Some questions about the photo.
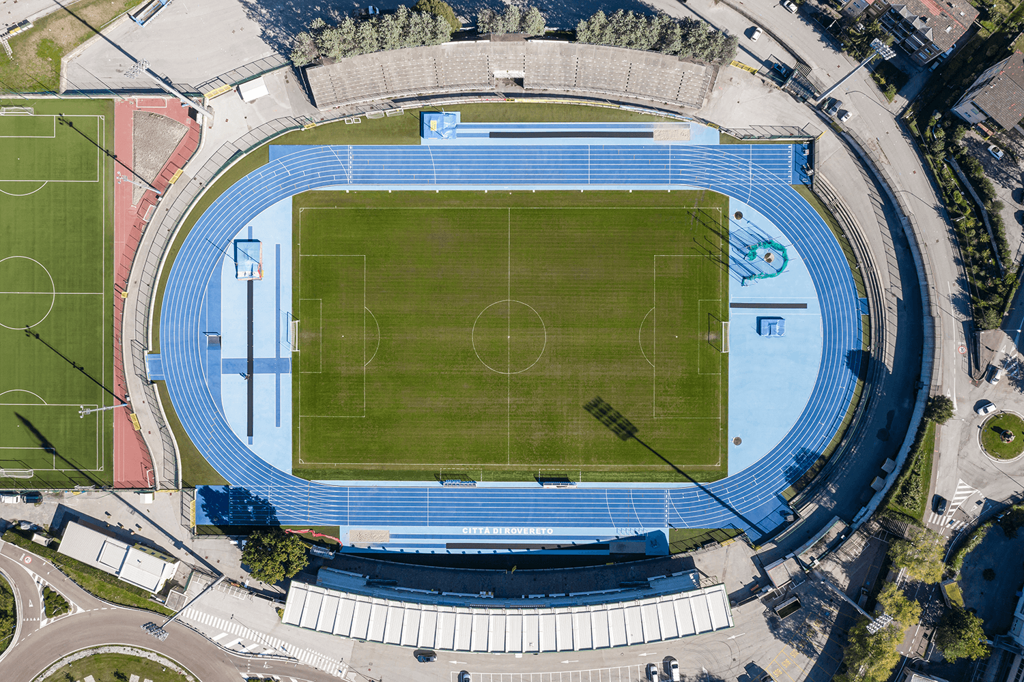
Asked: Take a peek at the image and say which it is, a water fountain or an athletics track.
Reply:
athletics track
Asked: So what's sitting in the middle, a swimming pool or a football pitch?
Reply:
football pitch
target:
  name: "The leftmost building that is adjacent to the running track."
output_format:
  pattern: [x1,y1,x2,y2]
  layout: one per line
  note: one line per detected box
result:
[58,513,187,594]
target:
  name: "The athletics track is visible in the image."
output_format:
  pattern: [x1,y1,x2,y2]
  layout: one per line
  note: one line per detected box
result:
[147,144,869,544]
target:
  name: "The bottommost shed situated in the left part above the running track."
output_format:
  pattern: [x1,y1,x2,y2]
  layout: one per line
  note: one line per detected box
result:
[240,77,271,104]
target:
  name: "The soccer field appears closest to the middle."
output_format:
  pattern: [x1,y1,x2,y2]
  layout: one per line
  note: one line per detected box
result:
[292,190,729,482]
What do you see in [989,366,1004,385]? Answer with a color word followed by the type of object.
white car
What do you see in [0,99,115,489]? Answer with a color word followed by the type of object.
green soccer field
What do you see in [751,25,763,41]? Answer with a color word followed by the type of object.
white vehicle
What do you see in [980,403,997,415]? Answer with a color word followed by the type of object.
white vehicle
